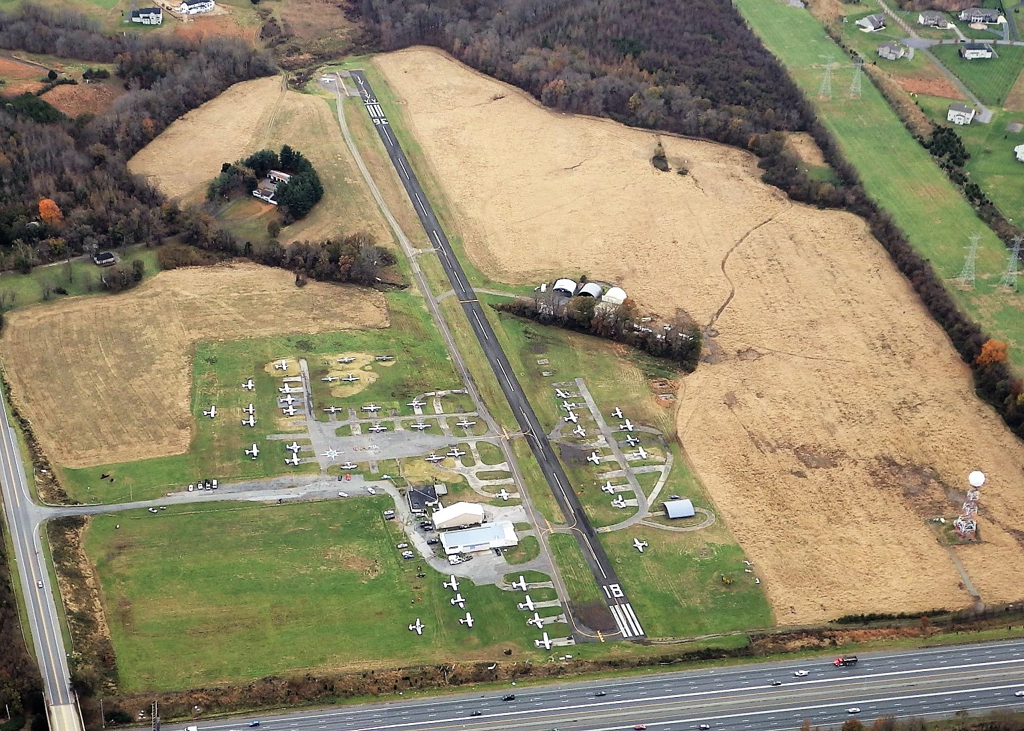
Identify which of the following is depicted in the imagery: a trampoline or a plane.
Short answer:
plane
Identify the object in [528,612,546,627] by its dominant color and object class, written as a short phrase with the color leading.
white airplane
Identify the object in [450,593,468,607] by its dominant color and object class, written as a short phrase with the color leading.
white airplane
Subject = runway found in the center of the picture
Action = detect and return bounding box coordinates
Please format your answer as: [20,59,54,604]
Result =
[348,70,650,644]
